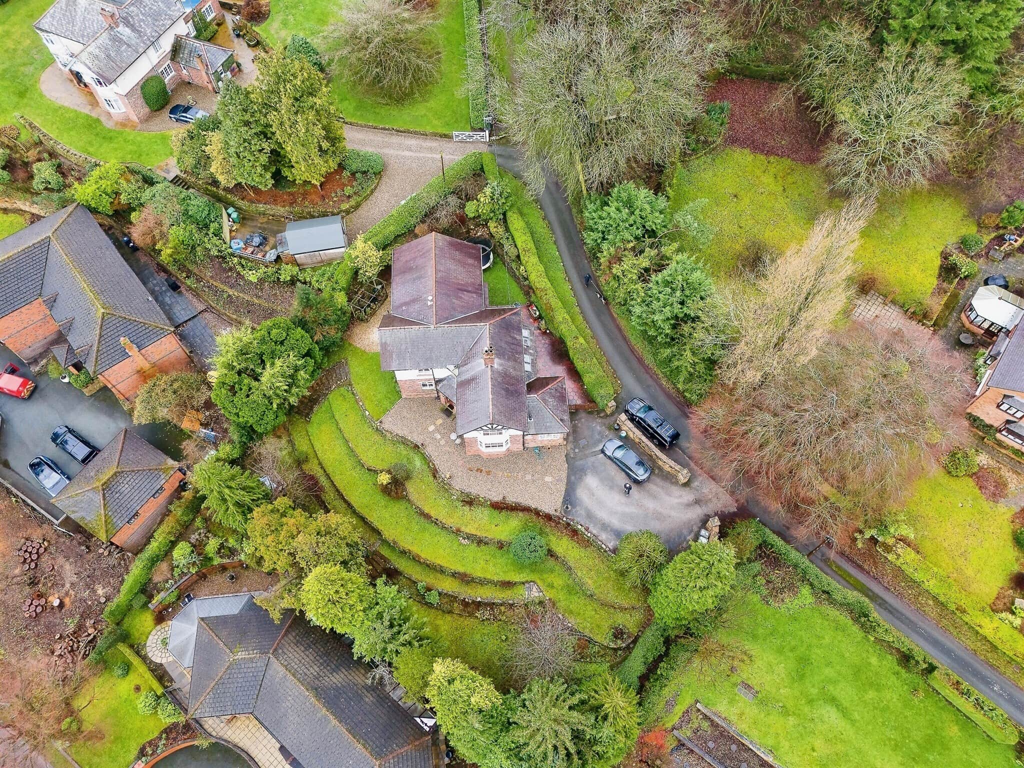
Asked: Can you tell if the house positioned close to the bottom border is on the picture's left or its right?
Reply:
left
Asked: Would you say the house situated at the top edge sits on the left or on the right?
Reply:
left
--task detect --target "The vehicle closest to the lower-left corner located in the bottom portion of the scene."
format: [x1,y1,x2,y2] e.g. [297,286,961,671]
[26,456,71,509]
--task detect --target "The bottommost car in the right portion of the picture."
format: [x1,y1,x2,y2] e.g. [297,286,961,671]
[600,436,659,489]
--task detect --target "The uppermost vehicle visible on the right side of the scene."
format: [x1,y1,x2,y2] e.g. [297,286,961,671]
[624,398,684,452]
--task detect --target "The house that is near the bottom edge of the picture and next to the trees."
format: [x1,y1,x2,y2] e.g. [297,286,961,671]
[168,593,443,768]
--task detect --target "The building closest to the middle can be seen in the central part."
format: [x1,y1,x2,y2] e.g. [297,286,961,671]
[379,231,571,468]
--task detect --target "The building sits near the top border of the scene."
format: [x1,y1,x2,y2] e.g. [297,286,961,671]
[21,0,239,129]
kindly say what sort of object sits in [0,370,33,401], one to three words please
van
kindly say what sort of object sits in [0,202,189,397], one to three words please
house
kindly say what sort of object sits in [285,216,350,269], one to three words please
shed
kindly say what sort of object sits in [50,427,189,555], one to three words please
building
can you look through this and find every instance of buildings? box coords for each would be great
[0,202,189,397]
[958,285,1024,447]
[21,0,239,129]
[168,593,443,768]
[285,216,350,269]
[379,231,571,468]
[50,427,189,555]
